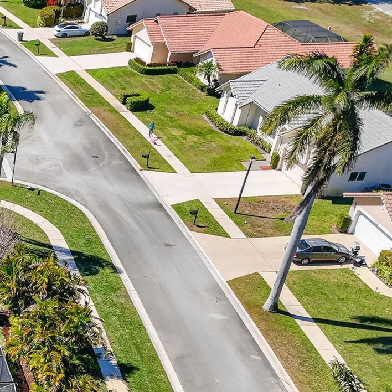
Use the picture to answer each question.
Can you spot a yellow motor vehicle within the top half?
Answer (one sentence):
No, within the top half there is no yellow motor vehicle.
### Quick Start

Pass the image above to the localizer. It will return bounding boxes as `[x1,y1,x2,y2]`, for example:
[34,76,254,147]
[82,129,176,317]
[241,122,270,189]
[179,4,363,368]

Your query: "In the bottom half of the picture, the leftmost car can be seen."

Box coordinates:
[295,233,353,264]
